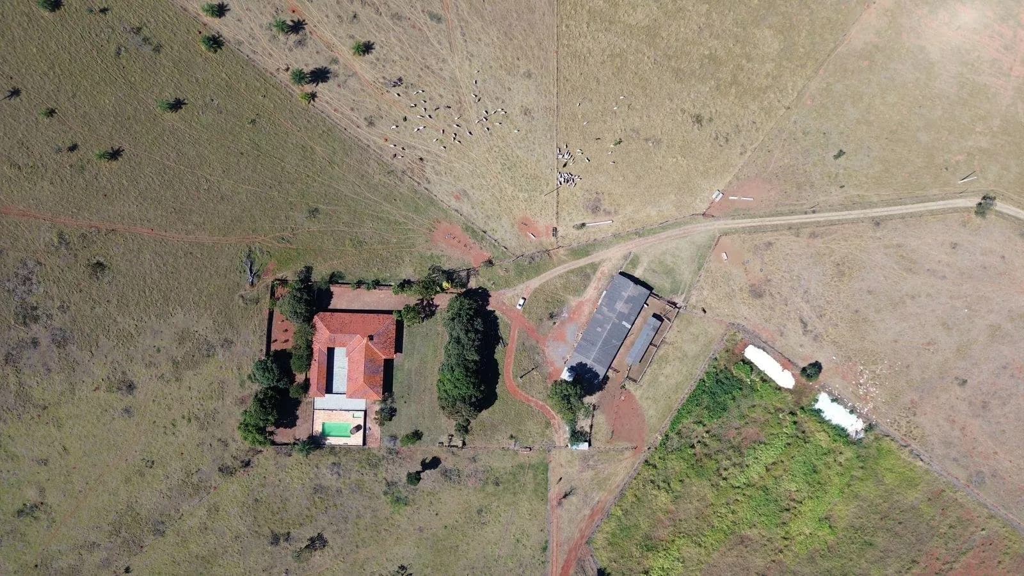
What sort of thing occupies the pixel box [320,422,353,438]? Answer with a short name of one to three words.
swimming pool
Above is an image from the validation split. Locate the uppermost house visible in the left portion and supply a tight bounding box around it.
[309,312,401,399]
